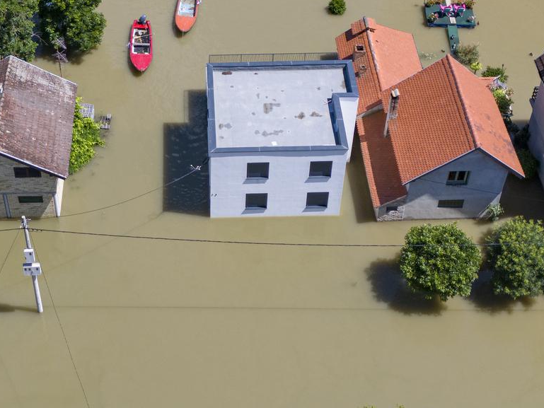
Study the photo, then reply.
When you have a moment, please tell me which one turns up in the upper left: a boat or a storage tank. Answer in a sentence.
Visible in the upper left is a boat.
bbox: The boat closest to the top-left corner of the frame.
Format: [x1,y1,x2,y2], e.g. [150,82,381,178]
[128,7,154,69]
